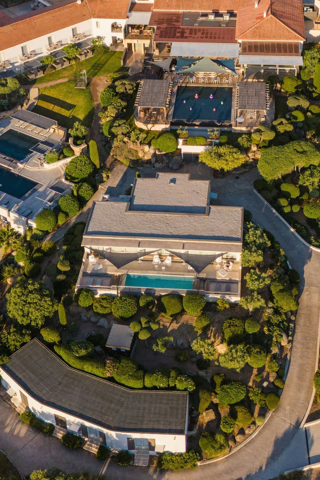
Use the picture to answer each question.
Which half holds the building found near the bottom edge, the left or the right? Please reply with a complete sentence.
The building found near the bottom edge is on the left side of the image.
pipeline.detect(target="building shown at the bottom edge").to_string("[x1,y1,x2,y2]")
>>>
[0,337,189,457]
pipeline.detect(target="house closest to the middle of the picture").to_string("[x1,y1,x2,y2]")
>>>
[75,172,244,305]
